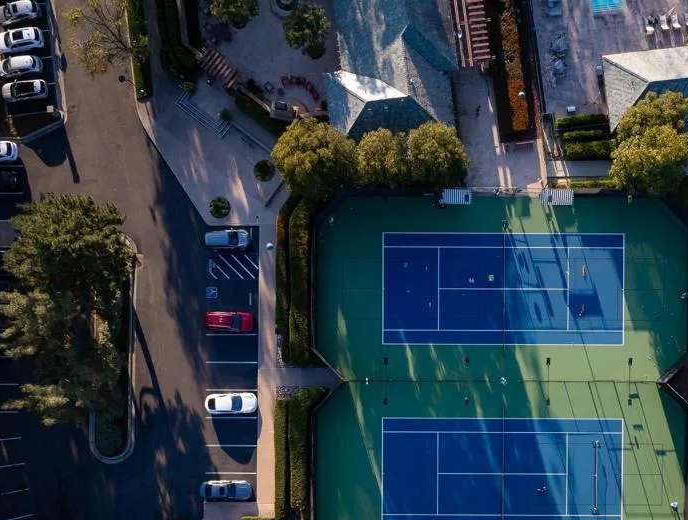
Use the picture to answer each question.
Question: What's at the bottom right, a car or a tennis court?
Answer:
tennis court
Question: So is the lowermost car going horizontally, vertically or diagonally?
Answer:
horizontally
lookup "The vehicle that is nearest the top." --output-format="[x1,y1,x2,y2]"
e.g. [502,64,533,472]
[0,0,45,29]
